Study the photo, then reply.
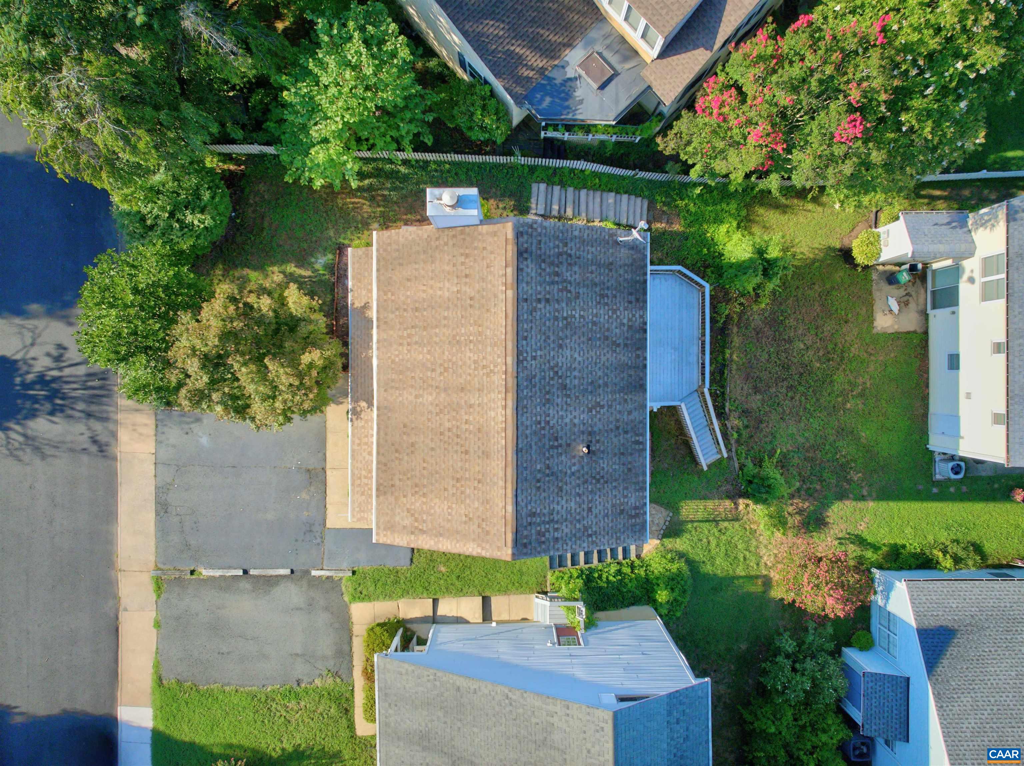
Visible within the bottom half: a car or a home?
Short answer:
home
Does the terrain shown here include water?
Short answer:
No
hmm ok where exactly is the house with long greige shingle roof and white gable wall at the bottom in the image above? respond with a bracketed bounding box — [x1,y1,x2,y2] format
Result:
[374,603,710,766]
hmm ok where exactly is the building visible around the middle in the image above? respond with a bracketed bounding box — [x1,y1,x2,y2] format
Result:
[341,215,653,561]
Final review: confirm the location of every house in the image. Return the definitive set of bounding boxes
[865,565,1024,766]
[374,603,710,766]
[398,0,762,141]
[341,215,653,561]
[922,201,1024,469]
